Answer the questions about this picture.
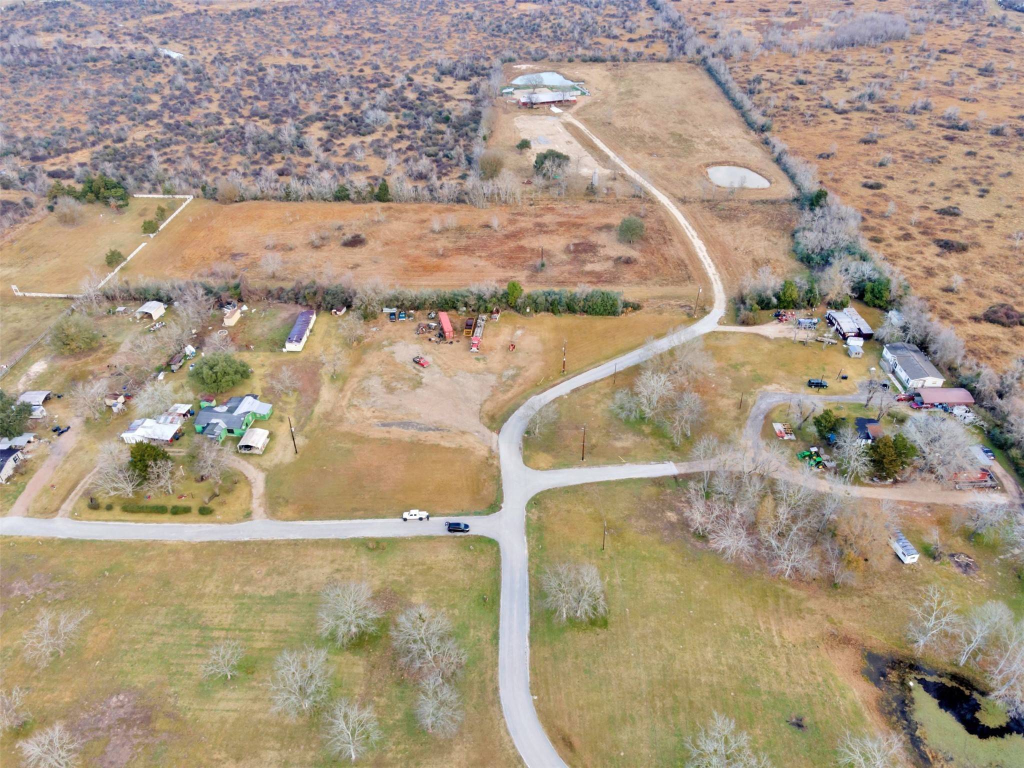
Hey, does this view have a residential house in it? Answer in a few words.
Yes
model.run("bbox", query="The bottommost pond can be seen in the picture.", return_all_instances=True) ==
[915,677,1024,742]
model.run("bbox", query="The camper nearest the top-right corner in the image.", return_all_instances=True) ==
[886,312,902,332]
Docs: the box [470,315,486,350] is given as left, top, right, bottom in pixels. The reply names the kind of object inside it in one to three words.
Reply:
vehicle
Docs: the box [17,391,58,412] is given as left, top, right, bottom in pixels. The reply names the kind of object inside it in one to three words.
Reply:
barn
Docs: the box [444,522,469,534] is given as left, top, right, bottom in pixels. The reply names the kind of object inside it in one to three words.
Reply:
vehicle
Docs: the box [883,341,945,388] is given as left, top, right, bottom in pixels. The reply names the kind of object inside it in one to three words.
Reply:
house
